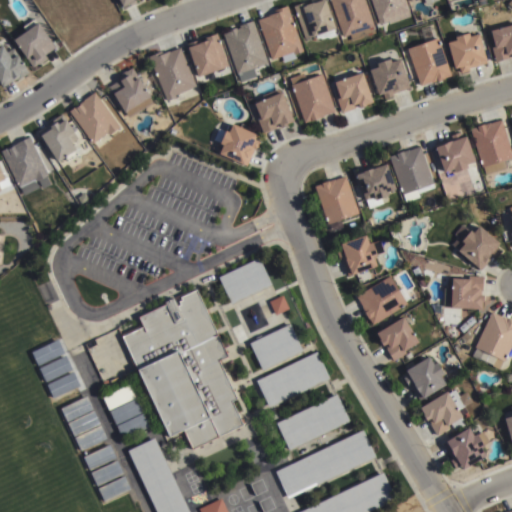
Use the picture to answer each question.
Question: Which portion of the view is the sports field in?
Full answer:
The sports field is in the bottom left part of the image.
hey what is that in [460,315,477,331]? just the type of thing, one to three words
camper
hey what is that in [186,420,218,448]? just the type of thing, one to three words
building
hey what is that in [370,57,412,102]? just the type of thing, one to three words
house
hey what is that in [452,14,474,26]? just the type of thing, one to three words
swimming pool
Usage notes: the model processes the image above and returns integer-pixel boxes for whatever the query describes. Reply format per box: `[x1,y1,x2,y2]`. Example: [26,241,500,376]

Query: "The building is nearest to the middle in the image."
[220,260,272,304]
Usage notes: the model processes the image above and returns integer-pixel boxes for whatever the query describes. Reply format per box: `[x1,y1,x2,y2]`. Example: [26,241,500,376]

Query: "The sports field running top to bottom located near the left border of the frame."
[0,264,141,512]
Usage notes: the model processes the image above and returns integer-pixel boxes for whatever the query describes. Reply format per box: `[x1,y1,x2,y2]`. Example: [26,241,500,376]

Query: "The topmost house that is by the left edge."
[15,20,55,65]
